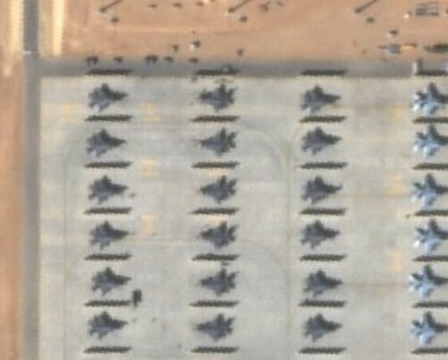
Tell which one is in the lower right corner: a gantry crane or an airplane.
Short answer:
airplane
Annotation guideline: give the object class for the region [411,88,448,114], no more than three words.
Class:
airplane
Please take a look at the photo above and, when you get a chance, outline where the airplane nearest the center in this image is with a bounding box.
[196,180,232,203]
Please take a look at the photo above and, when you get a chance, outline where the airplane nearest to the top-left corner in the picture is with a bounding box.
[89,87,124,111]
